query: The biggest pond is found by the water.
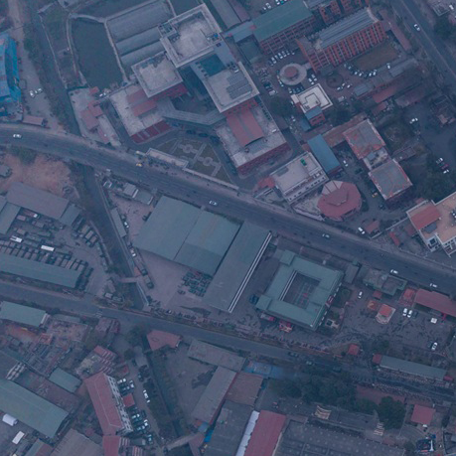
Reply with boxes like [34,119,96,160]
[68,10,125,91]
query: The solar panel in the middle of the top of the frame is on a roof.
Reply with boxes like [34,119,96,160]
[227,73,253,99]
